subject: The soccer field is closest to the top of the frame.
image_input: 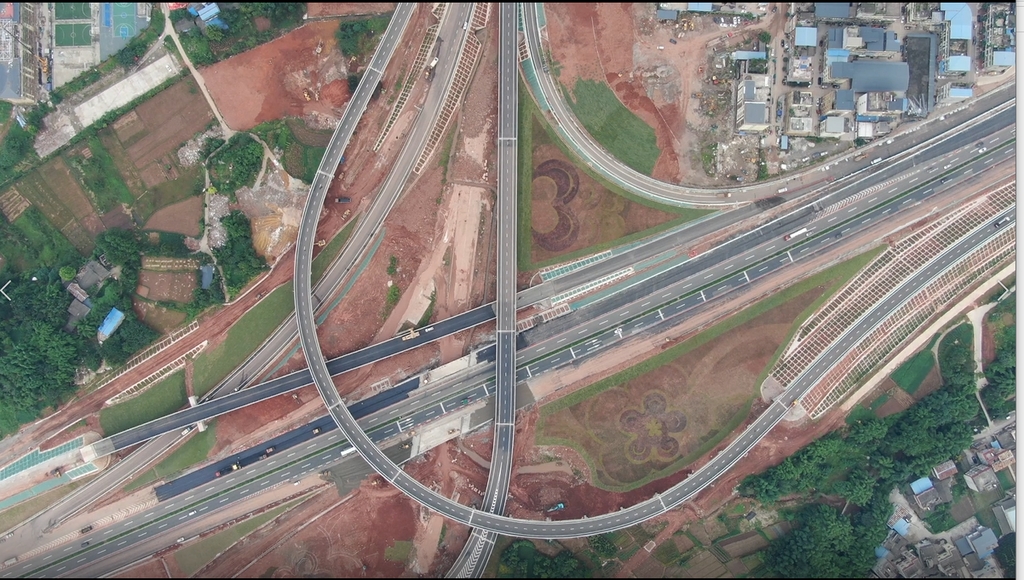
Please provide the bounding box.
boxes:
[53,0,92,20]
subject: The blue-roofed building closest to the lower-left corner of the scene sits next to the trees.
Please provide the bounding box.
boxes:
[99,308,127,335]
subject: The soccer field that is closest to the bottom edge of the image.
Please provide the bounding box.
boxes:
[53,22,92,47]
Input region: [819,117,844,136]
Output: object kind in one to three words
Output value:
building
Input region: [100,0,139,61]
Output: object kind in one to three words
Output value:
basketball court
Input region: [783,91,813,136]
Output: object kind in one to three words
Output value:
building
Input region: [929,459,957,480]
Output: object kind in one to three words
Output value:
house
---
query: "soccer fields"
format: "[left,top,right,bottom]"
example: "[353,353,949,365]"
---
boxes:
[53,22,92,47]
[53,0,92,20]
